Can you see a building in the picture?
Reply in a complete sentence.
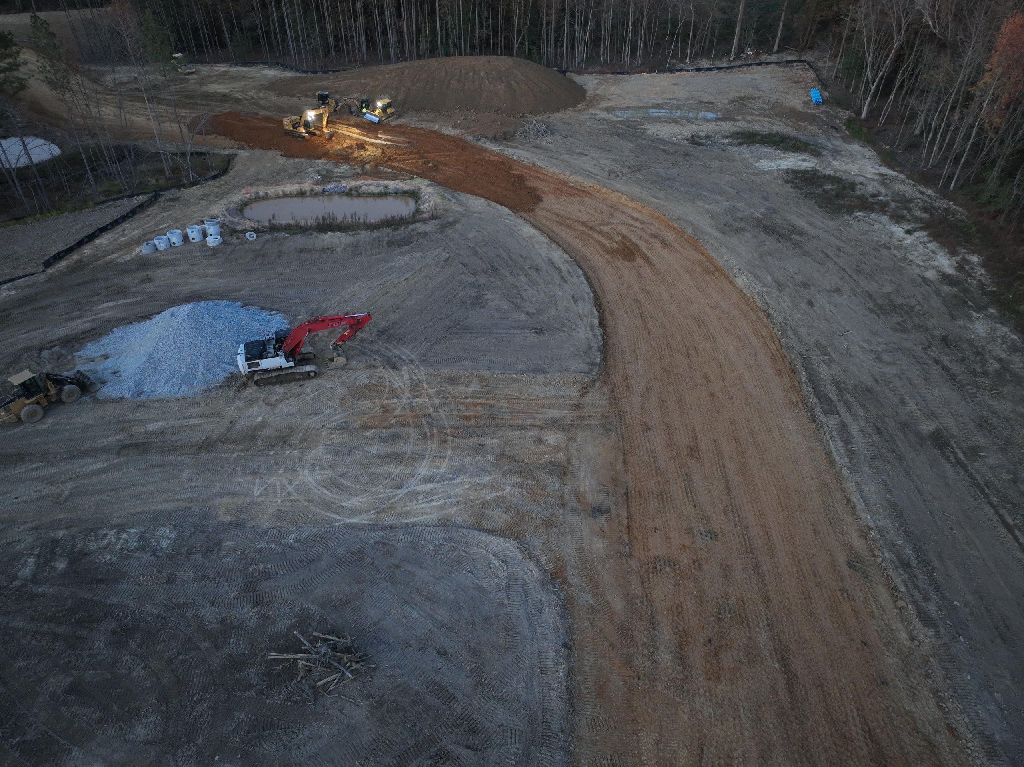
No, the frame has no building in it.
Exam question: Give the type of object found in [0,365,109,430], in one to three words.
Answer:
work vehicle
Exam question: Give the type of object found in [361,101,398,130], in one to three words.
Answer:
work vehicle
